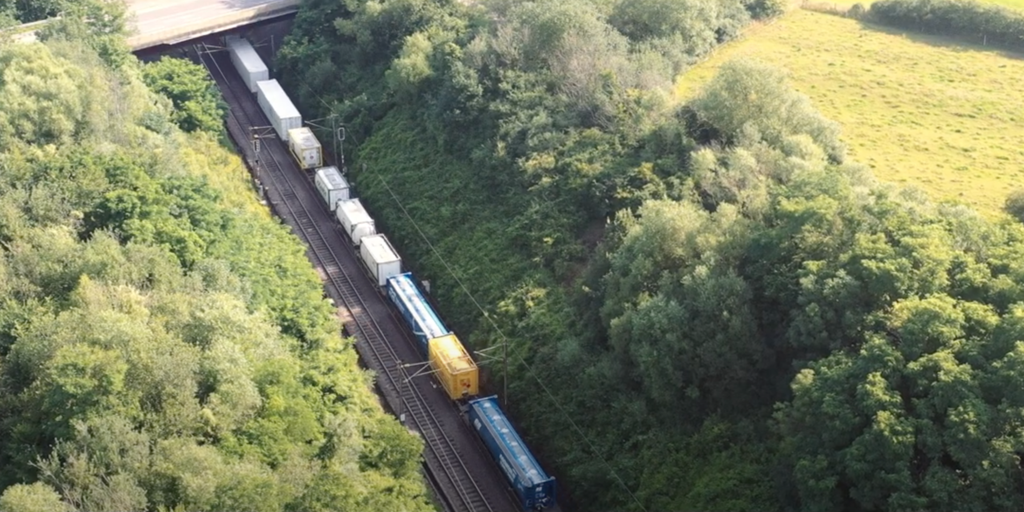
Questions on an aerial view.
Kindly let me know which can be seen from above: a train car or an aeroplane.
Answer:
train car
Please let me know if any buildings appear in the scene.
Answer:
No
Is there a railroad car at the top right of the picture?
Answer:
No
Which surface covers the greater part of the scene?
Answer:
trees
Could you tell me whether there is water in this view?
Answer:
No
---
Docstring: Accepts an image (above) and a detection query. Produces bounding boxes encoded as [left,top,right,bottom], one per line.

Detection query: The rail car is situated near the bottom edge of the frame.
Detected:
[461,407,560,512]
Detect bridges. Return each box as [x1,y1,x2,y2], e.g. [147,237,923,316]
[105,0,322,63]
